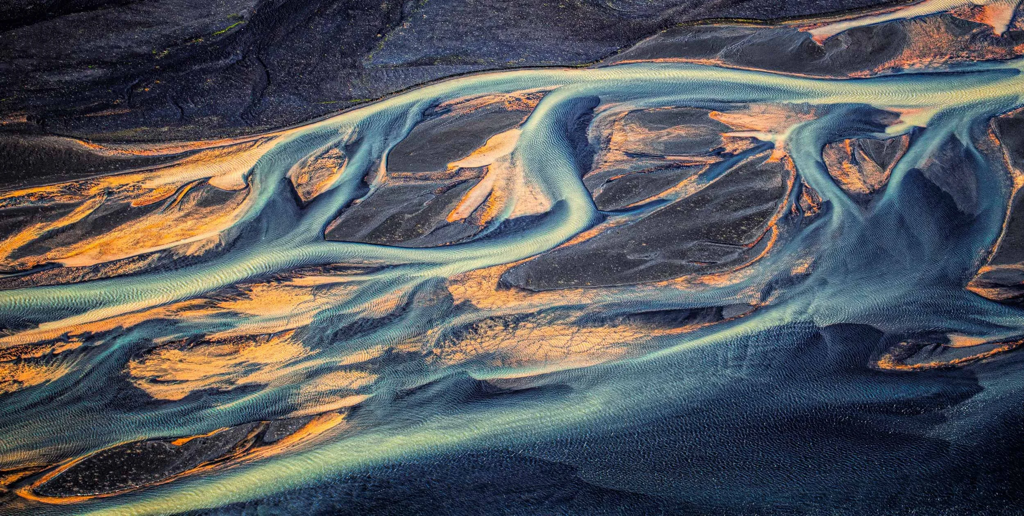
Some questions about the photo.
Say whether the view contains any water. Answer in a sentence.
Yes, the picture does contain water.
